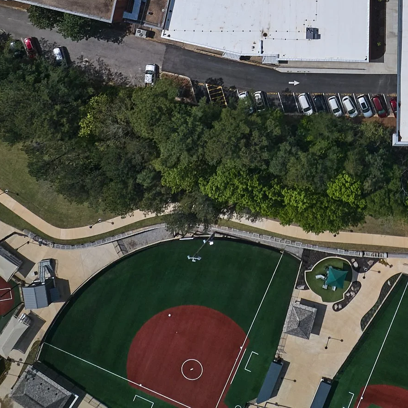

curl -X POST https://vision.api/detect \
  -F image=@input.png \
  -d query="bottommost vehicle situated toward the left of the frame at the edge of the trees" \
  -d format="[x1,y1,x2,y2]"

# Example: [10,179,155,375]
[144,62,156,85]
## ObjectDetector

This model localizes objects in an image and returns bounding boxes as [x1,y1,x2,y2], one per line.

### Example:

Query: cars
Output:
[342,94,359,118]
[297,91,312,112]
[356,94,373,118]
[328,94,344,116]
[251,91,264,107]
[54,45,69,66]
[372,94,388,118]
[10,39,28,60]
[387,97,398,119]
[236,89,253,107]
[24,36,40,60]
